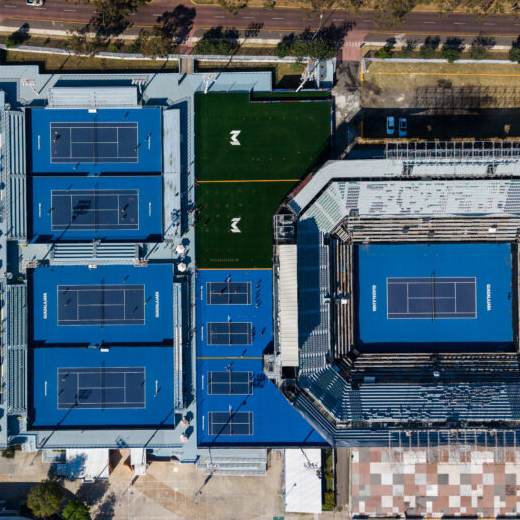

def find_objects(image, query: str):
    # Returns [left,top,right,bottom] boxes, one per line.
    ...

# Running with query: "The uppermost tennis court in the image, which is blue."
[28,109,163,175]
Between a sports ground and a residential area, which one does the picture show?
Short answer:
sports ground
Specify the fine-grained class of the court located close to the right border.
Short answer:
tennis court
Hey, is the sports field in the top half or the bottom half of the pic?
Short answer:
top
